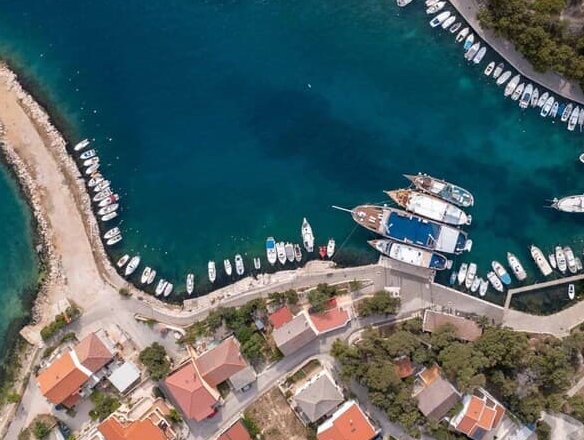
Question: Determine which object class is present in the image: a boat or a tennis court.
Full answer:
This aerial view contains a boat.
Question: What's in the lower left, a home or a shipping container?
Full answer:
You can see a home in the lower left.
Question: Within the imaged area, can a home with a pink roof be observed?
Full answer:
Yes, a home with a pink roof can be made out from above.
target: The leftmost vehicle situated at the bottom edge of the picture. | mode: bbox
[60,421,73,437]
